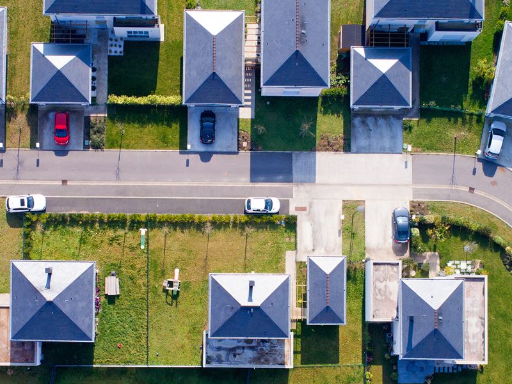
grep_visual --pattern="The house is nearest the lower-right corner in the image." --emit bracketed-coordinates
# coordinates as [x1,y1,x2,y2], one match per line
[365,260,488,365]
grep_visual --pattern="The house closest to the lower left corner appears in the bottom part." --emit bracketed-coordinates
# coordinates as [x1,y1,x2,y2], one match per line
[0,262,97,366]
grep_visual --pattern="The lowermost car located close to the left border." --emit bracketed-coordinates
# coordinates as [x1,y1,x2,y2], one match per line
[6,193,47,212]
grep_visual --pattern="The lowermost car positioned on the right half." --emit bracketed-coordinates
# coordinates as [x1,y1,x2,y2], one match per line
[393,208,410,244]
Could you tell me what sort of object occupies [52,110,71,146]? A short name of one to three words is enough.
car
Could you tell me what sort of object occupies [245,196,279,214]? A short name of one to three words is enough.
car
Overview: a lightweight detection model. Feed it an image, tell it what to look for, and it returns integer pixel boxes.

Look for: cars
[245,196,279,214]
[6,193,47,212]
[52,110,71,146]
[483,120,507,160]
[198,108,217,146]
[393,208,410,244]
